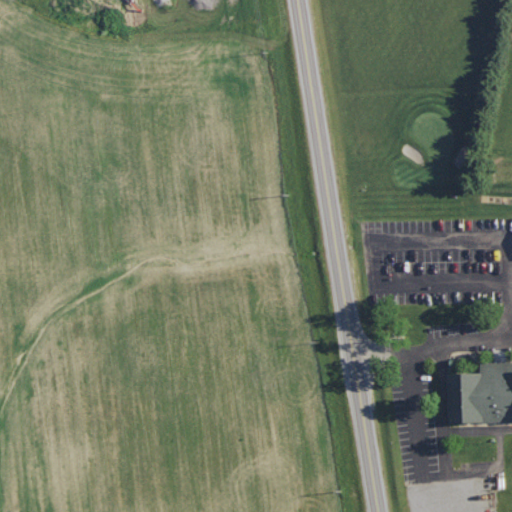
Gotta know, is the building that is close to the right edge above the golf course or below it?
below it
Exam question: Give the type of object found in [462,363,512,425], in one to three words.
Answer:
building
